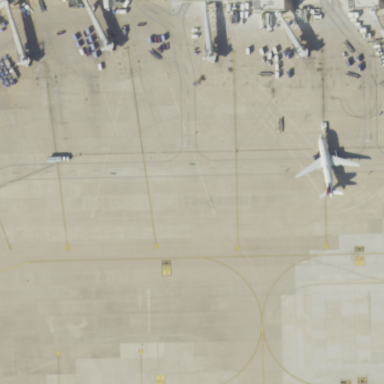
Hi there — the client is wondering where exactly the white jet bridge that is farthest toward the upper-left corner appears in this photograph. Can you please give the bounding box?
[4,0,34,66]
